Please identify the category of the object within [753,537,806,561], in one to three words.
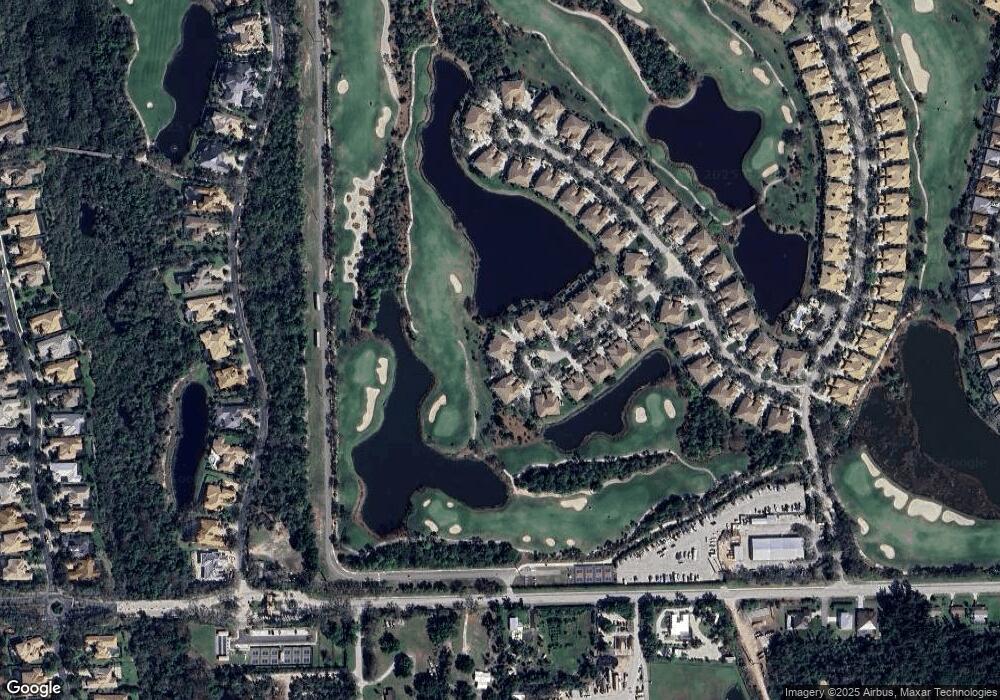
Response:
building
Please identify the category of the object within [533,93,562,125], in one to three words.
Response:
house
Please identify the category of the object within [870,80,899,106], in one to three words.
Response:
house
